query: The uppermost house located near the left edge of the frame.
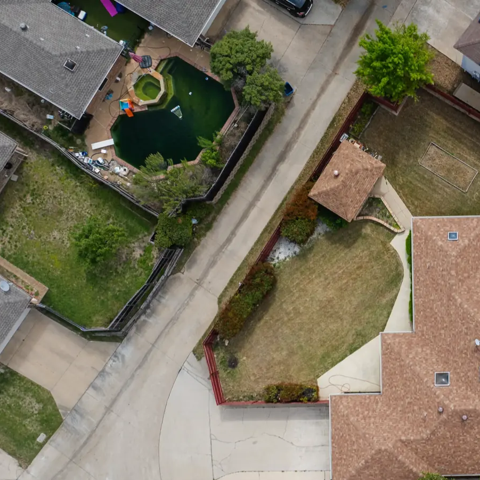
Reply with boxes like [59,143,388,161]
[0,0,130,123]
